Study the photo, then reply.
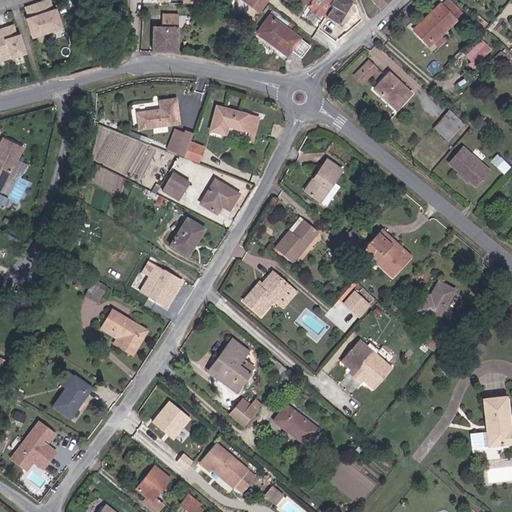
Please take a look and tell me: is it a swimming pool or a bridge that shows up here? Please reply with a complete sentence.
There is a swimming pool in the scene.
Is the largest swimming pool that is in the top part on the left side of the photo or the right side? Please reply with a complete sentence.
The largest swimming pool that is in the top part sits on the left side.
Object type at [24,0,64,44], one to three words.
house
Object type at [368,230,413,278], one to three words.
house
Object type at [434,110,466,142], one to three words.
building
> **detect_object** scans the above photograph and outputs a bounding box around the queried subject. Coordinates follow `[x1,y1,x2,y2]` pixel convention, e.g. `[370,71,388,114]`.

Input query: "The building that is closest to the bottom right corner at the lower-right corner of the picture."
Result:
[470,396,512,450]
